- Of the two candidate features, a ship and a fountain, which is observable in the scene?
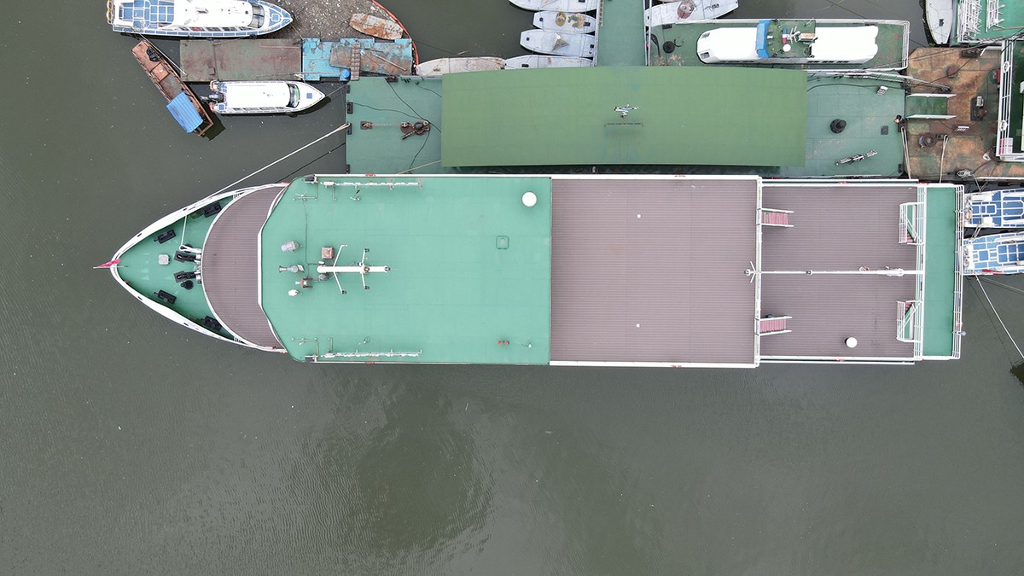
ship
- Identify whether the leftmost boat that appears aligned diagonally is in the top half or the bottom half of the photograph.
top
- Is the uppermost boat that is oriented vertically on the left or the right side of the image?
right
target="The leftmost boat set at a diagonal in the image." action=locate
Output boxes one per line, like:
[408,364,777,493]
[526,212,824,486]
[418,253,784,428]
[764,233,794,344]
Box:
[132,40,214,136]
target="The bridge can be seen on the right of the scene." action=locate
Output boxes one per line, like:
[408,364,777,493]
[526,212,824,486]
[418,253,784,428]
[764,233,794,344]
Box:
[596,0,650,68]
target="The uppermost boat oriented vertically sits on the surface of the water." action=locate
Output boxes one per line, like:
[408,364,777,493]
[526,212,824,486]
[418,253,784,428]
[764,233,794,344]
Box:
[923,0,945,46]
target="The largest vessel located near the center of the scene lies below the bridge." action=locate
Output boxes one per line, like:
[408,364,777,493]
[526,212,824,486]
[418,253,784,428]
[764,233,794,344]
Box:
[93,175,966,367]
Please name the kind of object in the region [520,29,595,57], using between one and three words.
boat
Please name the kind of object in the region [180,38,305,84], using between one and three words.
ship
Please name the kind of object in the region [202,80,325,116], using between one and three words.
boat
